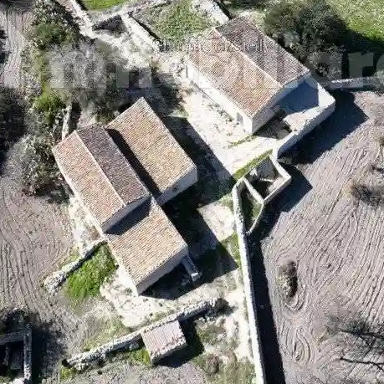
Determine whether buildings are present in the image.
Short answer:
Yes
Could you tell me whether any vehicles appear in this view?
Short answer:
No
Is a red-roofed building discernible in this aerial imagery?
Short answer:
No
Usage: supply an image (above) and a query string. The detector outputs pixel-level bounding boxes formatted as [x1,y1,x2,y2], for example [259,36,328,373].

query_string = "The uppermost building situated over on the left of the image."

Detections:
[50,96,197,293]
